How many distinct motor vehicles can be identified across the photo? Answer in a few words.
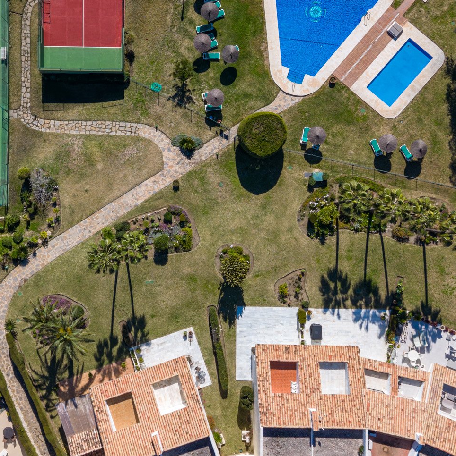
zero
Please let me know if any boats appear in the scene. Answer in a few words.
No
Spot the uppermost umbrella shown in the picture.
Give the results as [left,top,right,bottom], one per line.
[200,2,218,21]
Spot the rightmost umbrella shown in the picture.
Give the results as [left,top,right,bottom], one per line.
[410,140,429,159]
